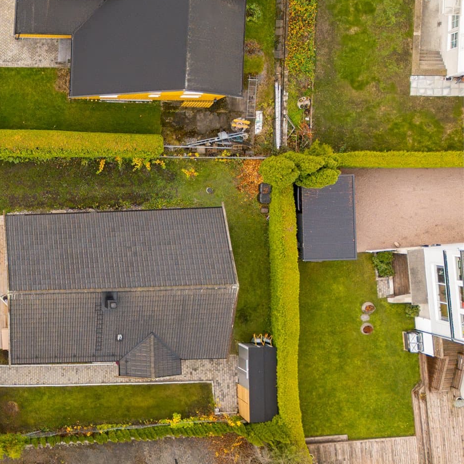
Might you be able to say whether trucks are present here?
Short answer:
No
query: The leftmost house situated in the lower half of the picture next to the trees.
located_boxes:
[4,206,240,380]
